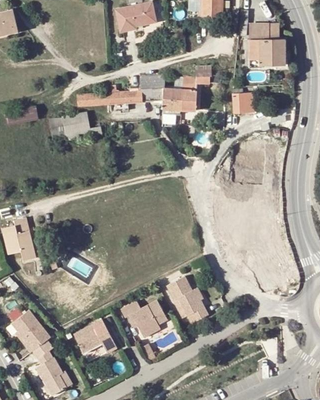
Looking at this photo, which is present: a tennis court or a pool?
pool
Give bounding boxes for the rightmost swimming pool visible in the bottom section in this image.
[152,328,180,352]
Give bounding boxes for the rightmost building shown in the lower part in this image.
[166,278,208,324]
